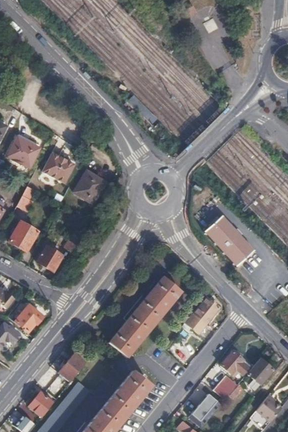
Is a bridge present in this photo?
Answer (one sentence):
Yes, the image includes a bridge.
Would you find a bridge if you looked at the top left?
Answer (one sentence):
No, I see no bridge at the top left.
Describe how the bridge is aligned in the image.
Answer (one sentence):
Seen from above, the bridge lies at an angle.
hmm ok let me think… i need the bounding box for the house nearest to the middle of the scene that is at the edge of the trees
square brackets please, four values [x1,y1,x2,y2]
[73,170,106,204]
